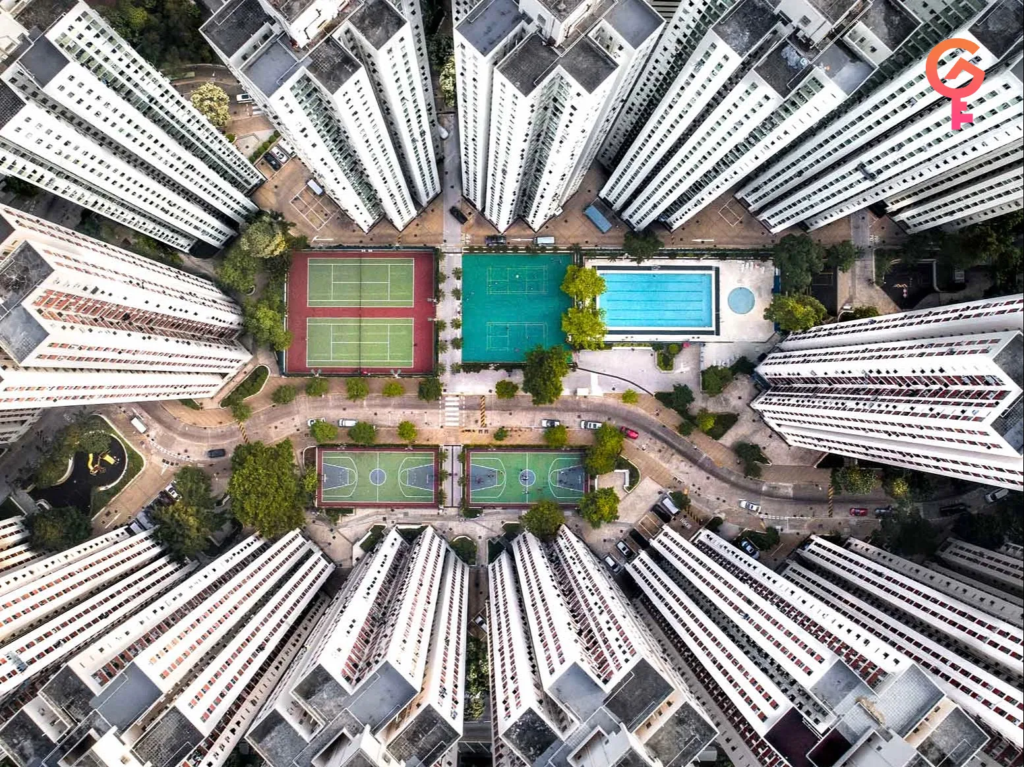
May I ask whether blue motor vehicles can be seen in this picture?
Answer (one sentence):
Yes, you can see a blue motor vehicle in this photo.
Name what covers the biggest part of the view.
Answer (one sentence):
The largest share of the image is taken up by buildings.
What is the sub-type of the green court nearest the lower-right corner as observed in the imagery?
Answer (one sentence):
What you see as the green court nearest the lower-right corner is a basketball court.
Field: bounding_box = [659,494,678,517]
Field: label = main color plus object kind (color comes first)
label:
white vehicle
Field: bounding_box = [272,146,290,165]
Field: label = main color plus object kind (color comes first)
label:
white car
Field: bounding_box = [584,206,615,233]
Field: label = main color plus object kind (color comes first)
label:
blue truck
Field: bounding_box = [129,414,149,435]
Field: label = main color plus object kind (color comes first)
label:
white vehicle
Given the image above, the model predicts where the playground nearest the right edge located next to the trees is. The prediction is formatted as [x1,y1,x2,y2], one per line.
[879,260,937,310]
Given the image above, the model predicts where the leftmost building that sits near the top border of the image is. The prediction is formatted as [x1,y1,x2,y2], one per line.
[0,0,266,251]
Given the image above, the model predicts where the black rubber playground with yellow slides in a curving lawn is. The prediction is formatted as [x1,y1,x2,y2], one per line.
[32,436,124,513]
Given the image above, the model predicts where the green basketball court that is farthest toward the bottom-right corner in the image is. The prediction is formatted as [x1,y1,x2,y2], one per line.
[466,448,588,508]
